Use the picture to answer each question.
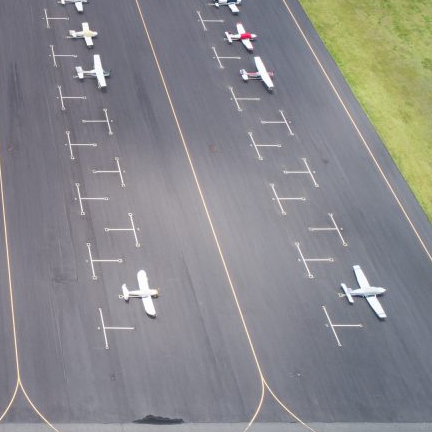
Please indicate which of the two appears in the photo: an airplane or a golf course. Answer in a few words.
airplane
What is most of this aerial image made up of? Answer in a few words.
paved ground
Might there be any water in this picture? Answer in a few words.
No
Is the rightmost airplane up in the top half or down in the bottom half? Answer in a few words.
bottom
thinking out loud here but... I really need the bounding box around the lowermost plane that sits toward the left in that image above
[122,271,160,315]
